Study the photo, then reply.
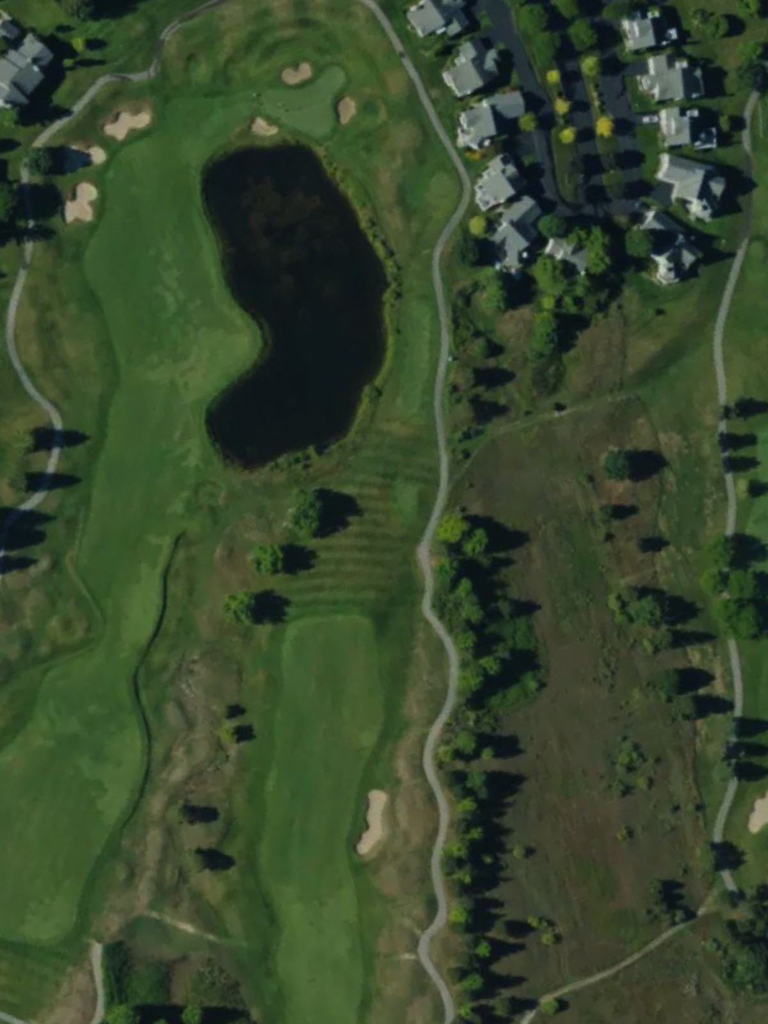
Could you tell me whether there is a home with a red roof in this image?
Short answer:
No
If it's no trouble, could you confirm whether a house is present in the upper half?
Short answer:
Yes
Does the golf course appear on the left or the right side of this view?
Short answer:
left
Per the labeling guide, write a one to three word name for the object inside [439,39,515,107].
house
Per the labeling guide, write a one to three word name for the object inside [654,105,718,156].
house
